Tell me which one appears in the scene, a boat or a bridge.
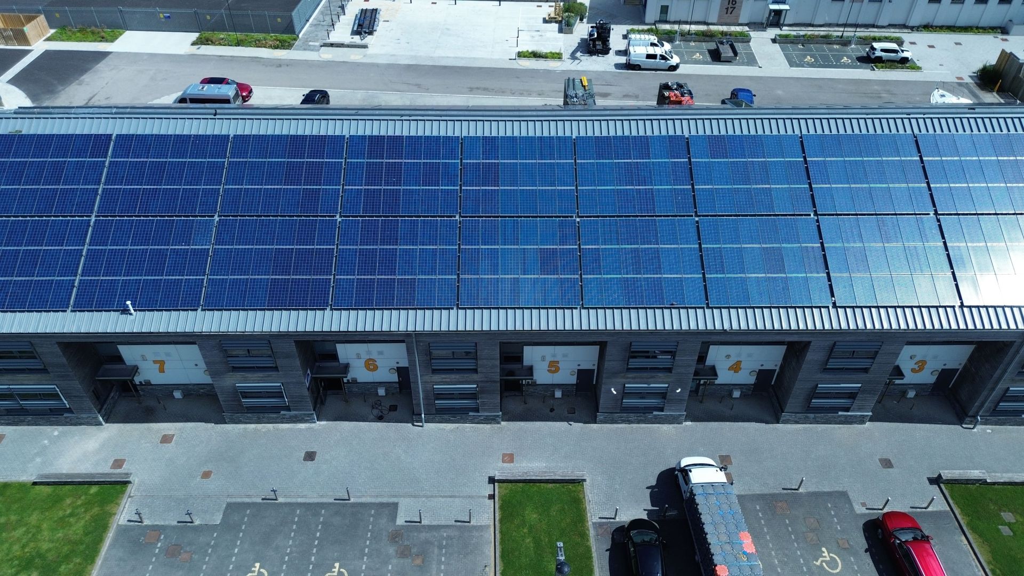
boat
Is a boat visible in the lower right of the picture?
No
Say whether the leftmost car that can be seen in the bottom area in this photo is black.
Yes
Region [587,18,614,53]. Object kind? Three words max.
work vehicle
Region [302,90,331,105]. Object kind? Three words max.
car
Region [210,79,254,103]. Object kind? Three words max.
car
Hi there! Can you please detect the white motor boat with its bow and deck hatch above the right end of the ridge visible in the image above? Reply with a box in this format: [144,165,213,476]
[923,81,980,106]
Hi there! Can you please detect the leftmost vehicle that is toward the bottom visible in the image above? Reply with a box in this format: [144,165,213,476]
[622,517,673,576]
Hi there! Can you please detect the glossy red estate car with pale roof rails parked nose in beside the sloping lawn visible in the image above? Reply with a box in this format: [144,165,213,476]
[876,509,954,576]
